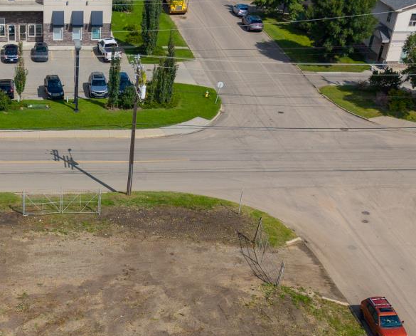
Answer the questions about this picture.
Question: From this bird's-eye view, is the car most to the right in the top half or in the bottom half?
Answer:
bottom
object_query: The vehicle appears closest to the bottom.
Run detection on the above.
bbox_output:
[354,296,407,336]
